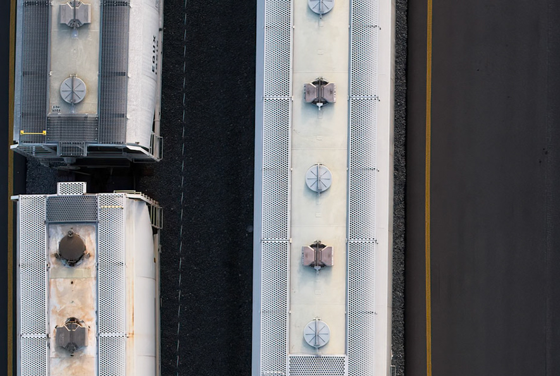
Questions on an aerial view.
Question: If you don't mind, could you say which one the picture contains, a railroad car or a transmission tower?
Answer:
railroad car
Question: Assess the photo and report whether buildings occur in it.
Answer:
No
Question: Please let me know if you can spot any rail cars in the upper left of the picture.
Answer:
Yes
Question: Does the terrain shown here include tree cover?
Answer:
No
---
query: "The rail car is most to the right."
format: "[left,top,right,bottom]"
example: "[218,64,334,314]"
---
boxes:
[254,0,401,376]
